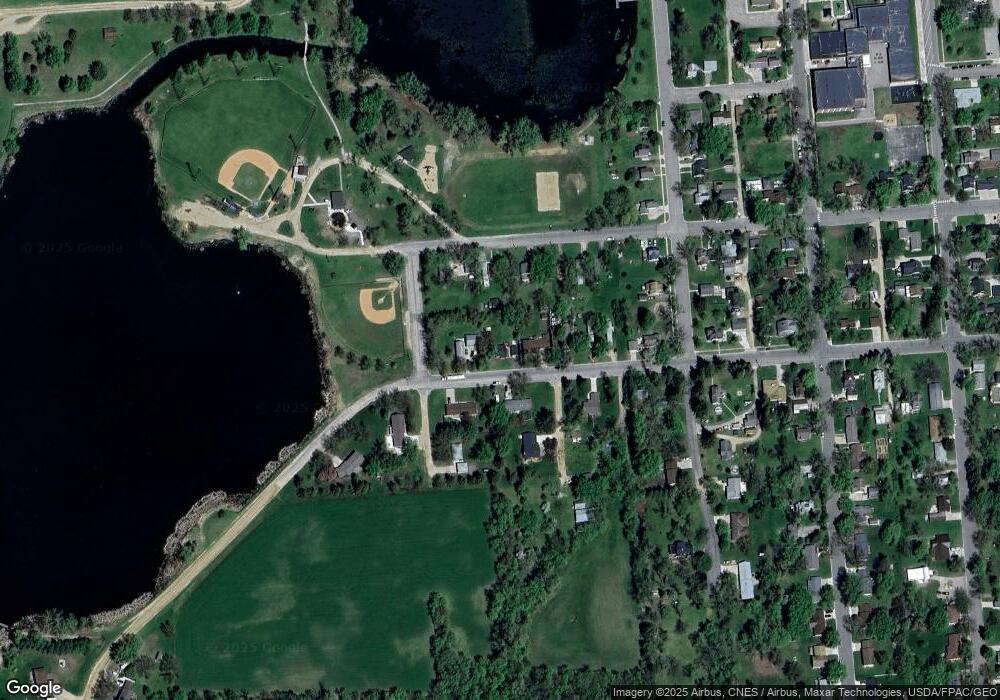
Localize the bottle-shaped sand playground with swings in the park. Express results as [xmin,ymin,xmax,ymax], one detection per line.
[417,144,438,193]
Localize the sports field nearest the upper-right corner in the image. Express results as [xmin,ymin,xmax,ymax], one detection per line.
[452,154,640,231]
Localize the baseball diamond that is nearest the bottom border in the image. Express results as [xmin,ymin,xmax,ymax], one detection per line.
[321,277,404,359]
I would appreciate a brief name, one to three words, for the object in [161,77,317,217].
baseball field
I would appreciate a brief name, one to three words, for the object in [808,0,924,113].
building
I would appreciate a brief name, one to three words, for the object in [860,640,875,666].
house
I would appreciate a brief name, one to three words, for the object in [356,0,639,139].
pond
